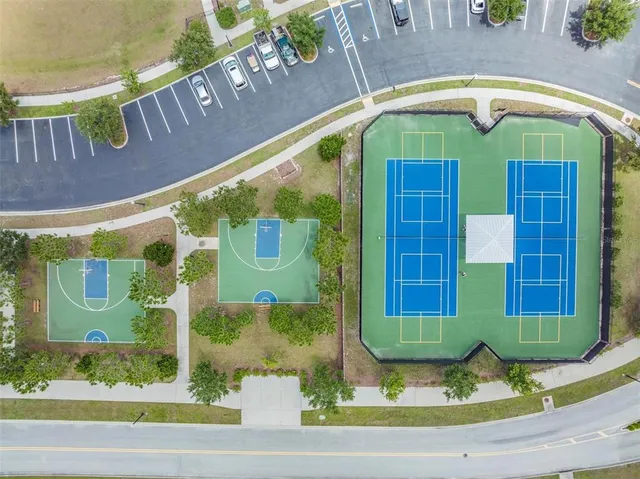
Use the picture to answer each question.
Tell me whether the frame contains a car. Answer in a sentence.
Yes, a car can be made out from above.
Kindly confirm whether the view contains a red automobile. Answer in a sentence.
No, I find no red automobile anywhere in the image.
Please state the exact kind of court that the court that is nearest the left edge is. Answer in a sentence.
The court that is nearest the left edge appears to be a basketball court.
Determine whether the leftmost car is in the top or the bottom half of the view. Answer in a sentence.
The leftmost car sits in the top half of the picture.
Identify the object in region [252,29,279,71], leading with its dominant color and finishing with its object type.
white truck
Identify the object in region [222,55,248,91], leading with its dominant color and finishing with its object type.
white car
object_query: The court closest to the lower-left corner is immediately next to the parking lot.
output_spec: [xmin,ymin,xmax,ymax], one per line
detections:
[47,260,146,342]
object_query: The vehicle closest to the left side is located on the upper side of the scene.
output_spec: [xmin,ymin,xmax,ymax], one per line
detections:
[190,74,213,106]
